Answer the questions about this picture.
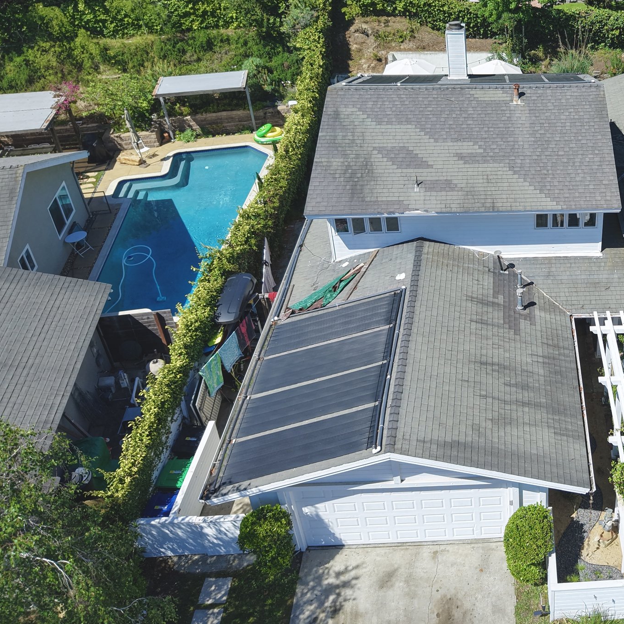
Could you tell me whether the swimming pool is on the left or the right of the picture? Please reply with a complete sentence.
The swimming pool appears in the left half of the scene.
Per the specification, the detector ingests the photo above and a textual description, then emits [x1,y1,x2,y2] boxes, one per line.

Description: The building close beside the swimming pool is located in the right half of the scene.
[192,17,624,557]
